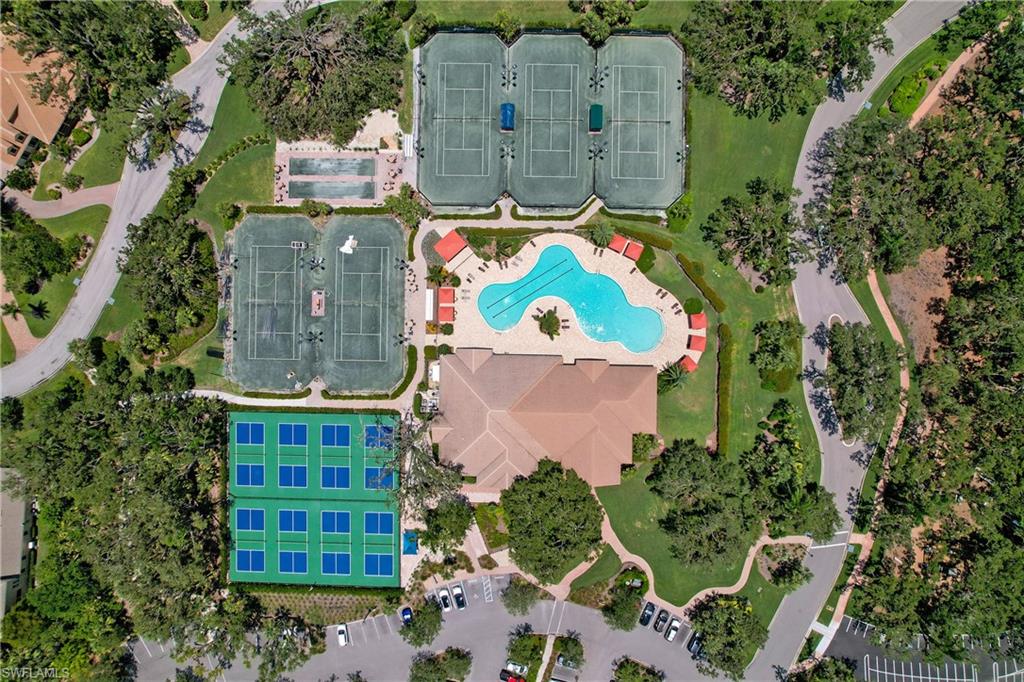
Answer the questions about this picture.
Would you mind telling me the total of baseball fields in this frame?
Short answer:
none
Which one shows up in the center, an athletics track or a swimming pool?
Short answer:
swimming pool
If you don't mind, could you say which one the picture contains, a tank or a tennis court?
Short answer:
tennis court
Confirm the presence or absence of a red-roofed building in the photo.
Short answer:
Yes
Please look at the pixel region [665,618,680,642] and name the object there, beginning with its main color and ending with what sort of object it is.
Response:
white car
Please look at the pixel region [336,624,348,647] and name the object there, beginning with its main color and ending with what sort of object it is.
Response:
white vehicle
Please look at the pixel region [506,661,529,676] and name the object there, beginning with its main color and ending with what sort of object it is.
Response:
white car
